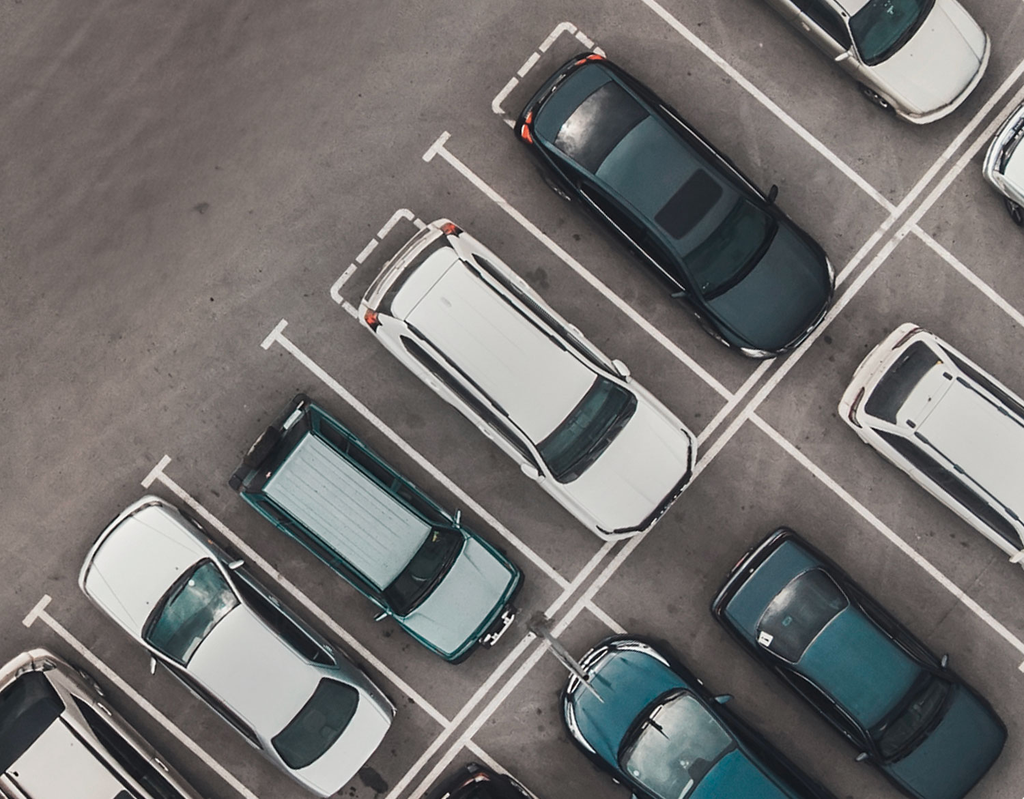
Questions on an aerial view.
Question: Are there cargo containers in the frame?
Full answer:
No, no cargo container is visible in the scene.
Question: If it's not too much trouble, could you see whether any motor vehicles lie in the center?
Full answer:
Yes, a motor vehicle is visible in the center.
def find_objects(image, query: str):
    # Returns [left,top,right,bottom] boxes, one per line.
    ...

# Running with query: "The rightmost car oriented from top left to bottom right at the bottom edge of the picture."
[710,528,1007,799]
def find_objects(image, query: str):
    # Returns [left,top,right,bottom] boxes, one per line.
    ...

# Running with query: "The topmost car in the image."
[763,0,989,123]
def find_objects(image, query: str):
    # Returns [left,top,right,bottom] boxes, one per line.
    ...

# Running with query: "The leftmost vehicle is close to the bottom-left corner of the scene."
[0,648,211,799]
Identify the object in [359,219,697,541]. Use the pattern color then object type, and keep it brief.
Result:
white car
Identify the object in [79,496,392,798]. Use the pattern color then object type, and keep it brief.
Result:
white car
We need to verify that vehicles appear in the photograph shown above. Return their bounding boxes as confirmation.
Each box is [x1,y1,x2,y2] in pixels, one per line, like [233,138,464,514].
[515,52,833,359]
[981,108,1024,222]
[431,762,536,799]
[563,637,835,799]
[763,0,989,123]
[79,496,392,798]
[710,528,1007,799]
[0,648,211,799]
[359,219,697,541]
[231,395,524,661]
